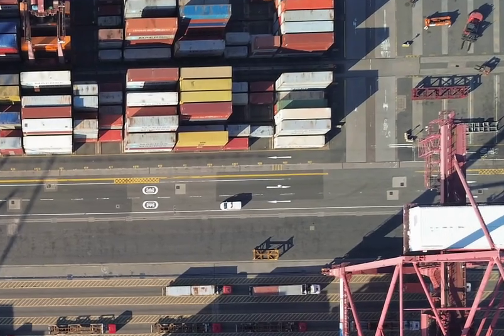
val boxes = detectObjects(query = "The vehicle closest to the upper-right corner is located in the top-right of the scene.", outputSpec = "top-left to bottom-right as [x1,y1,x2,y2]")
[460,2,491,49]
